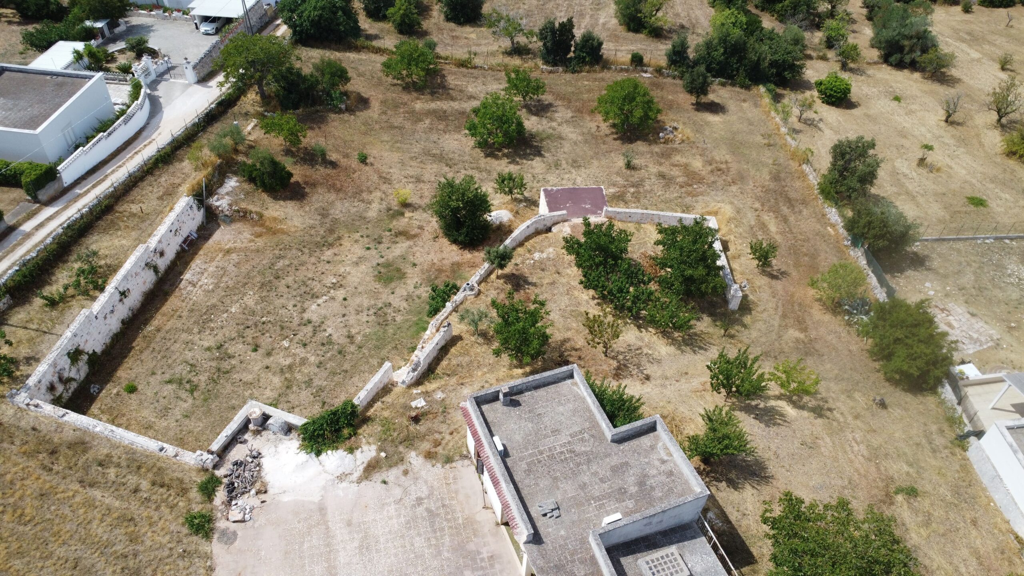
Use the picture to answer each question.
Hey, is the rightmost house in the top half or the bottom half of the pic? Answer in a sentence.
The rightmost house sits in the bottom half of the picture.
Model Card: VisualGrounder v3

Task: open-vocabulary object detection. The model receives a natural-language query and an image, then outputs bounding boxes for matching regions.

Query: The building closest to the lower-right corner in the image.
[980,418,1024,513]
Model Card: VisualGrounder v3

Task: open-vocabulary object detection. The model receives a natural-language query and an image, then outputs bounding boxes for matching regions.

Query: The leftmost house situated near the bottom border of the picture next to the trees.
[463,364,730,576]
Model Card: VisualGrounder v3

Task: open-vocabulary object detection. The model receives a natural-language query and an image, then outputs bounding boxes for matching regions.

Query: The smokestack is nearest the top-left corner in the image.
[463,277,478,297]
